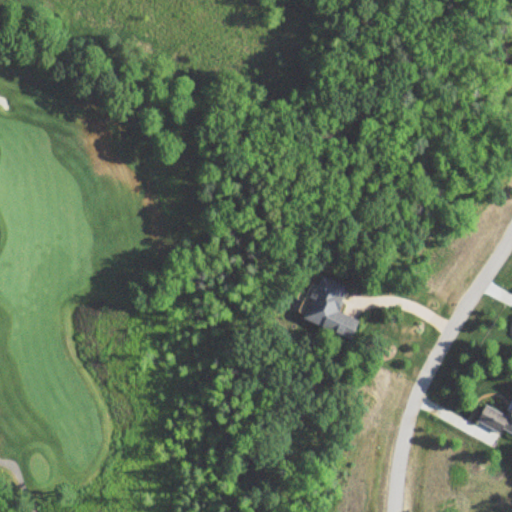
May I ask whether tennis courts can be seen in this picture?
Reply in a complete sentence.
No, I find no tennis court anywhere in the image.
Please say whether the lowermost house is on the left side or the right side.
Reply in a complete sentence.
The lowermost house appears in the right half of the scene.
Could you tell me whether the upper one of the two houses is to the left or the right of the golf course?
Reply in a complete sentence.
You can see the upper one of the two houses positioned to the right of the golf course.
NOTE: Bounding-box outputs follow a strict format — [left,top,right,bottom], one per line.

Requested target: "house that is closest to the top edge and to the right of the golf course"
[304,281,362,336]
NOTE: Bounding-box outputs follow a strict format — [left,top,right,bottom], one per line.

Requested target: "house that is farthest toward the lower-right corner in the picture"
[478,405,512,442]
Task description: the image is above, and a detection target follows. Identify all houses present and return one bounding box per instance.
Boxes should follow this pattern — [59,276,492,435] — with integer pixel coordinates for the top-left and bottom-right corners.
[304,281,362,336]
[478,405,512,442]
